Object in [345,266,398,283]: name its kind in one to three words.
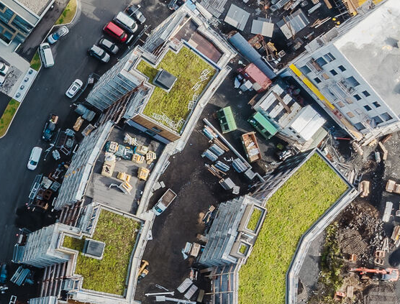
work vehicle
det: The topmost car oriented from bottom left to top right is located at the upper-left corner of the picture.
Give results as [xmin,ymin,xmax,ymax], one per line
[47,24,67,45]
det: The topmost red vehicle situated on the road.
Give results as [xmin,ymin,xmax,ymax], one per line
[103,20,127,43]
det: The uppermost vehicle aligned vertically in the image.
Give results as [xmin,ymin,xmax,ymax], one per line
[38,44,53,69]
